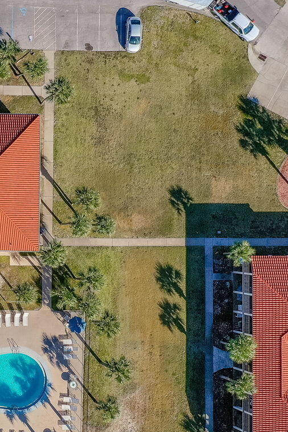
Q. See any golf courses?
No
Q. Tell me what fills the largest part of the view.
grass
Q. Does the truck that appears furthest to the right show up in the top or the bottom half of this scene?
top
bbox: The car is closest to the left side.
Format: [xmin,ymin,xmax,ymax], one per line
[124,16,143,53]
